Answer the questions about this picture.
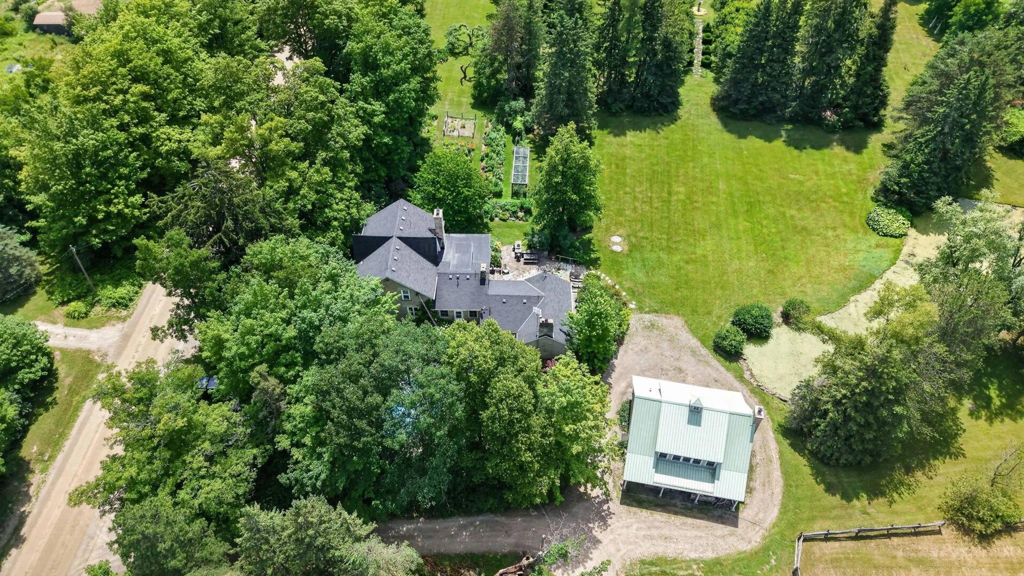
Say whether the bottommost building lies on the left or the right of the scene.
right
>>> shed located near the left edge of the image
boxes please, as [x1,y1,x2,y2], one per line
[30,10,93,39]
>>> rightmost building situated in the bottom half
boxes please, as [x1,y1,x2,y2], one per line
[622,375,762,513]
